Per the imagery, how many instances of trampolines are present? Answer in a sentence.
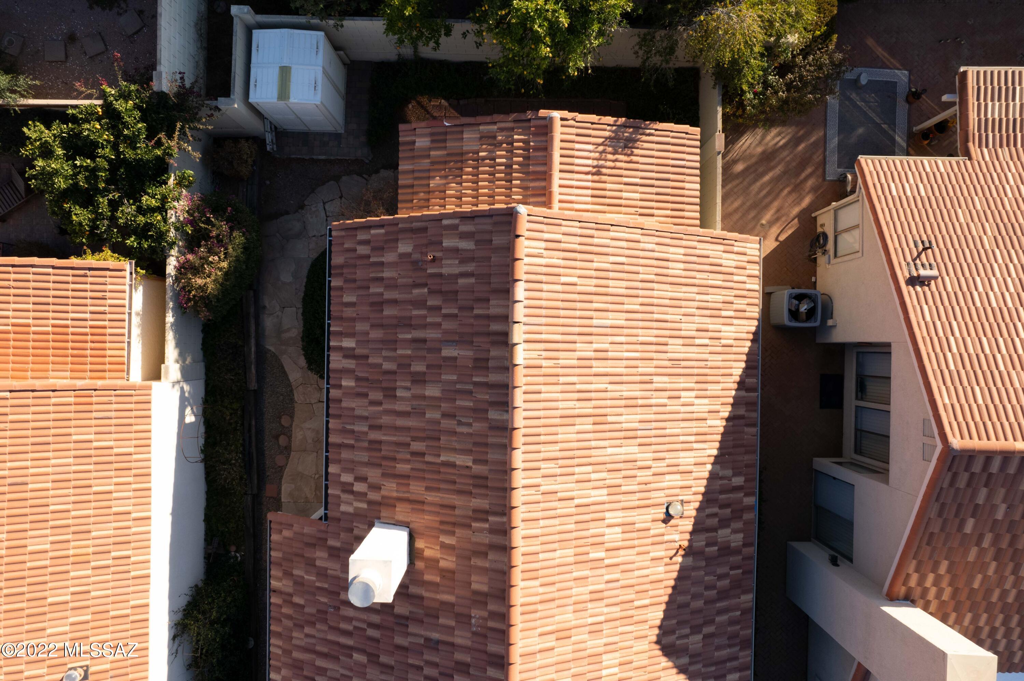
The picture shows no trampolines.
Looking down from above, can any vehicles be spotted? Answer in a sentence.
No, the scene contains no vehicle.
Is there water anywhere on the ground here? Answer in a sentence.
No, no water is visible.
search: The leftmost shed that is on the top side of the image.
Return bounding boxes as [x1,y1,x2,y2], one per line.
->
[247,28,344,131]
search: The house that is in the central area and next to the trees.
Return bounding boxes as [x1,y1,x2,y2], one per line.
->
[265,108,763,681]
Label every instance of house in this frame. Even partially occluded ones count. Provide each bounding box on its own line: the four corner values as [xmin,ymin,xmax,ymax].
[265,108,763,681]
[0,258,203,681]
[786,63,1024,681]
